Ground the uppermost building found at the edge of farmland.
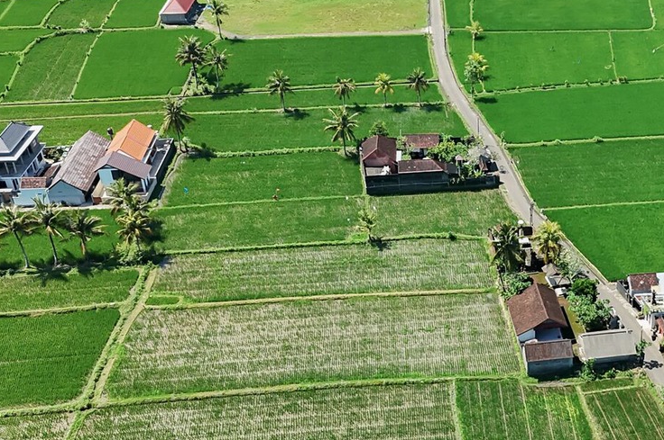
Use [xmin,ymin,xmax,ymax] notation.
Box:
[161,0,201,24]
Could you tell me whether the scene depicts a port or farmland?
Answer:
farmland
